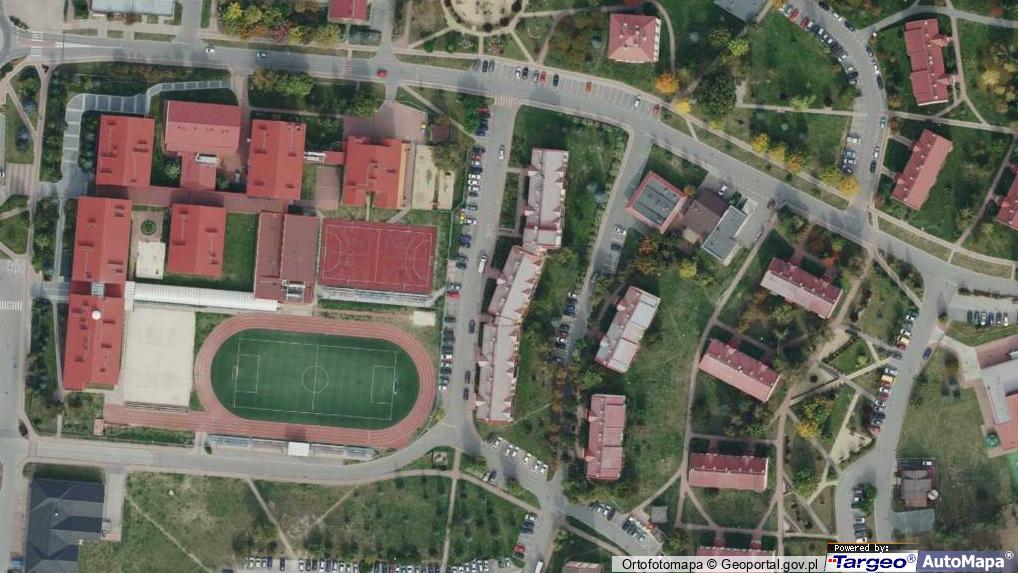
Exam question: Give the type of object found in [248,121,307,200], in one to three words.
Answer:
building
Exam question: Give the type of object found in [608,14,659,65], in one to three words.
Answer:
house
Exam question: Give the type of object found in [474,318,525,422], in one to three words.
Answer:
building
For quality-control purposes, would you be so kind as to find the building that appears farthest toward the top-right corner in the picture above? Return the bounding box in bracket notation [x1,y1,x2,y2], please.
[905,18,952,105]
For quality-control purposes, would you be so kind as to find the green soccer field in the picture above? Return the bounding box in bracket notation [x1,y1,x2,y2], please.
[210,330,421,431]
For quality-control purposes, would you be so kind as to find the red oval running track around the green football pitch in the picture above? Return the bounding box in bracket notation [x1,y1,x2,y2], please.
[103,314,437,447]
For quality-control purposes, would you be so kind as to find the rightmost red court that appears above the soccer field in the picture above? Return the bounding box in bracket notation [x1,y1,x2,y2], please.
[319,219,436,293]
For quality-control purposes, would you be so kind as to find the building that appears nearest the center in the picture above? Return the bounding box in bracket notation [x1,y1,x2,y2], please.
[486,245,548,324]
